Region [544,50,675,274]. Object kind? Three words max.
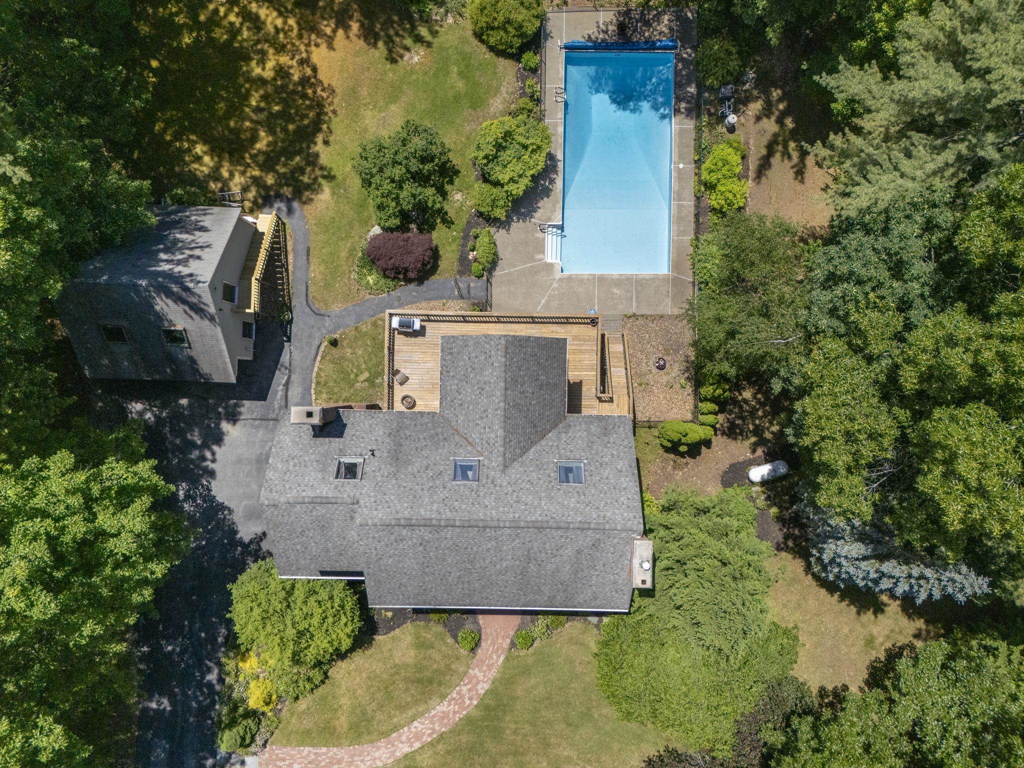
swimming pool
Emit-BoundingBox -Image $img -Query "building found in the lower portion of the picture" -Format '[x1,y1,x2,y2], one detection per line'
[259,334,653,614]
